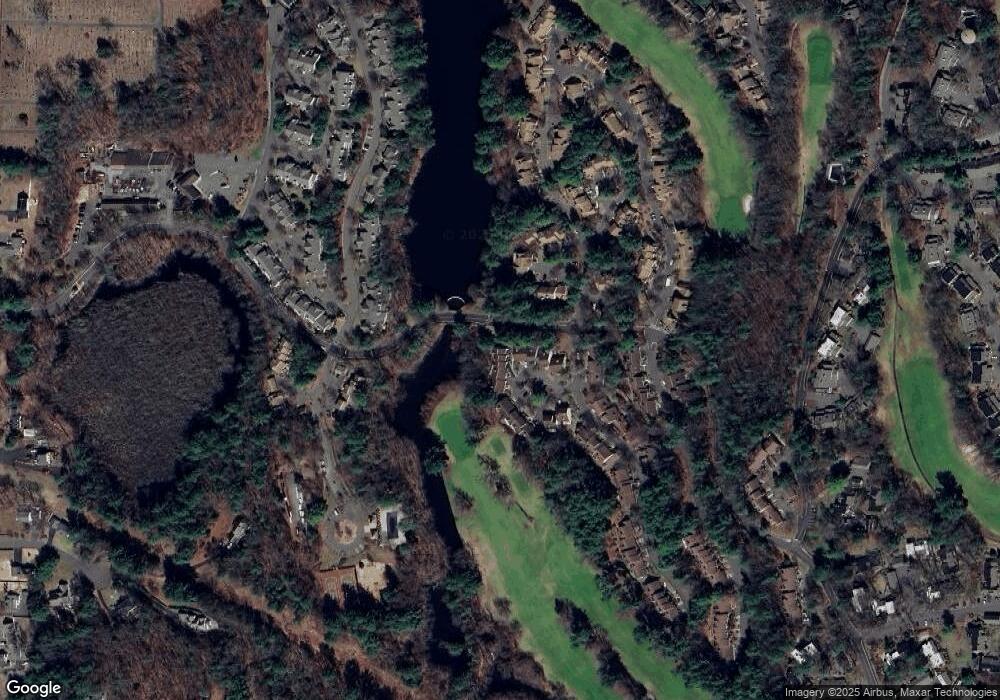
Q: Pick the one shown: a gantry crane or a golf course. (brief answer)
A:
golf course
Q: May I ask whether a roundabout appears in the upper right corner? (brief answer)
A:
No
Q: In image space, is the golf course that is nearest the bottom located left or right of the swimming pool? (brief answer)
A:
on its right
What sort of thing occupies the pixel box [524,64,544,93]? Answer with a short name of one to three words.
building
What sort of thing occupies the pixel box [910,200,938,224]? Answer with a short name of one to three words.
house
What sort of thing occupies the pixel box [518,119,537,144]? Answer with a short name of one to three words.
house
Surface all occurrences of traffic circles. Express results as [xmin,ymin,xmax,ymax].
[323,505,367,554]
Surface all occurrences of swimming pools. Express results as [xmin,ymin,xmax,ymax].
[377,503,406,546]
